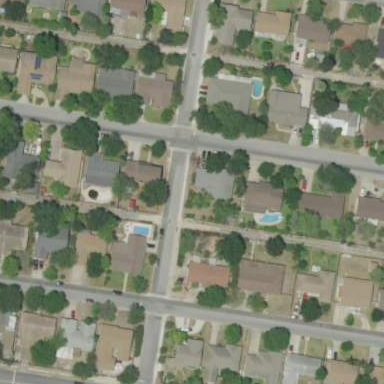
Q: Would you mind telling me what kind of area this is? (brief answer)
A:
residential area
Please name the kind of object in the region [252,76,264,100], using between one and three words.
swimming pool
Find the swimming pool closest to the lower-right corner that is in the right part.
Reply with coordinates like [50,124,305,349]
[255,212,283,225]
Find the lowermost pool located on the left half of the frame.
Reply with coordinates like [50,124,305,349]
[126,222,156,236]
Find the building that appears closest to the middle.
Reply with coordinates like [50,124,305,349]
[196,166,235,200]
